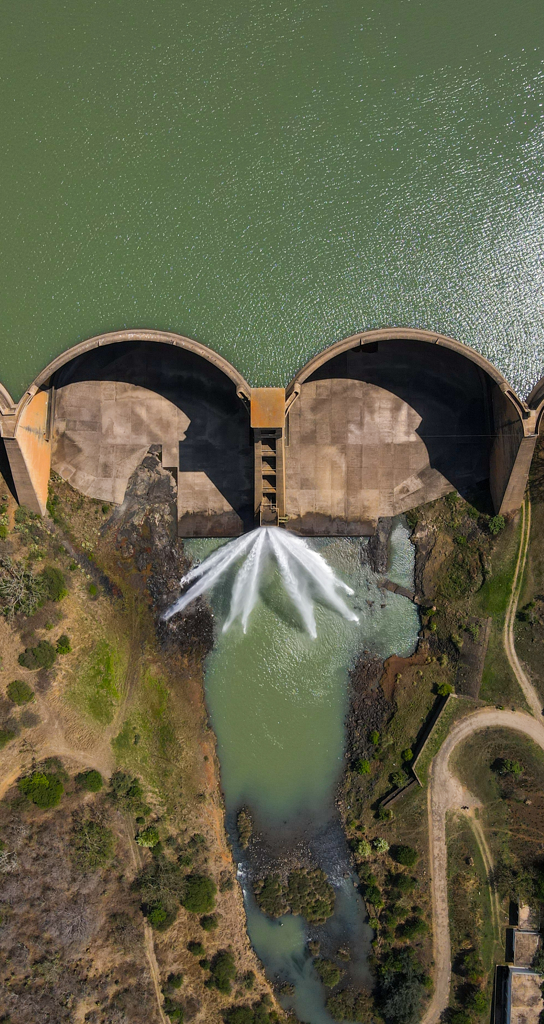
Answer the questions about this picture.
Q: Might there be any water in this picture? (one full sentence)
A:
Yes, water can be seen from above here.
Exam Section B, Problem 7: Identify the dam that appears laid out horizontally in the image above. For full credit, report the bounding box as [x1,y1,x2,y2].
[0,330,544,537]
